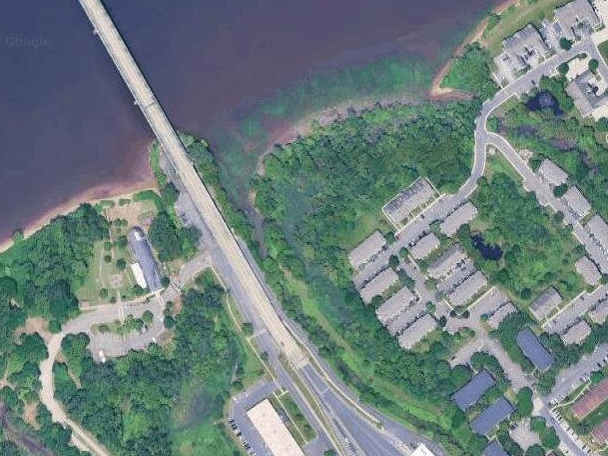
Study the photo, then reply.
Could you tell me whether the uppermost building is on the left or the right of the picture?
right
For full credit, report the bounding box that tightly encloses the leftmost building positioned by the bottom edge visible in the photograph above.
[246,398,304,456]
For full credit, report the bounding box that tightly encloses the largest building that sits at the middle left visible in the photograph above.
[133,228,163,291]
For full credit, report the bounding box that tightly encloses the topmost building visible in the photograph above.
[554,0,600,40]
